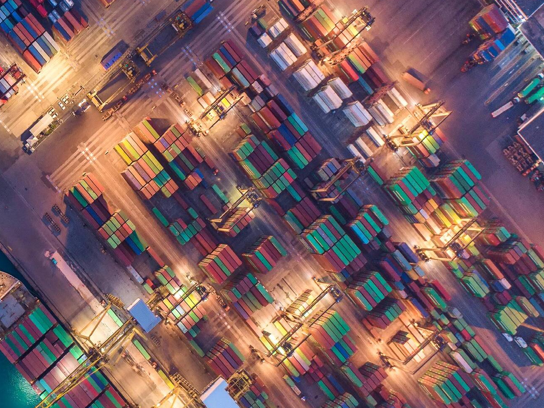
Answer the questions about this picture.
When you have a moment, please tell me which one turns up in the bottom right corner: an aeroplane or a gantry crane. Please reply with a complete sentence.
Looking in the bottom right corner, you will find a gantry crane.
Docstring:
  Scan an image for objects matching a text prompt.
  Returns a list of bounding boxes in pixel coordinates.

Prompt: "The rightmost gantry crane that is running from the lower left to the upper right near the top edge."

[307,9,375,63]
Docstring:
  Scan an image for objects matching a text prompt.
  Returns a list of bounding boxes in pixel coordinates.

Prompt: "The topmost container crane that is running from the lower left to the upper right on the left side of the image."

[129,17,188,69]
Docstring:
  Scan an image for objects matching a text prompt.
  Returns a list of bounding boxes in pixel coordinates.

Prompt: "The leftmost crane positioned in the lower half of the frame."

[29,287,172,408]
